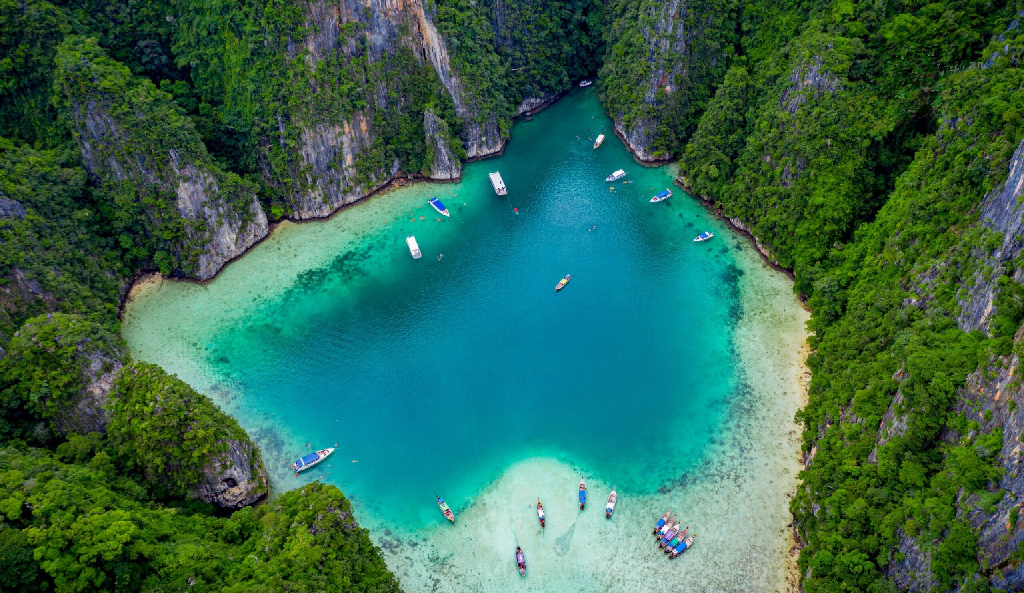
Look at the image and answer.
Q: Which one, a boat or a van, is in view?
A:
boat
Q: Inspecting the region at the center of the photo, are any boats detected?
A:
Yes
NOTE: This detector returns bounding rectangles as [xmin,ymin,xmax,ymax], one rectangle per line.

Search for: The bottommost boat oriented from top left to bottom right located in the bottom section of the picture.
[435,495,453,521]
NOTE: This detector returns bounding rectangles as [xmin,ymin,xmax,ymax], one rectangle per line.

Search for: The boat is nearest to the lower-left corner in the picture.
[292,446,334,471]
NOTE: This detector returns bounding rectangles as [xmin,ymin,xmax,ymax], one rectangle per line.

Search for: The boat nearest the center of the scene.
[555,272,572,289]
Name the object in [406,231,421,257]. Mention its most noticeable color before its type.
white boat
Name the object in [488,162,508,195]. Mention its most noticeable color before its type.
white boat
